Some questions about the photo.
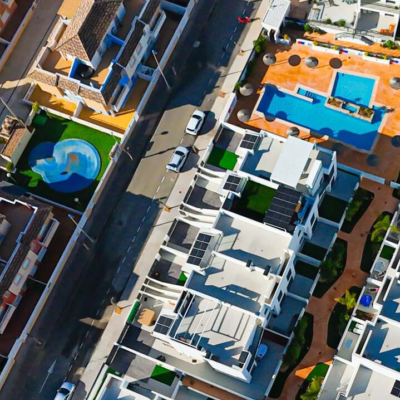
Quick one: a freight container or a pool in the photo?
pool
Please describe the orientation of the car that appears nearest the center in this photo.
diagonally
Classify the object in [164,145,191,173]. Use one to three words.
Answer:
car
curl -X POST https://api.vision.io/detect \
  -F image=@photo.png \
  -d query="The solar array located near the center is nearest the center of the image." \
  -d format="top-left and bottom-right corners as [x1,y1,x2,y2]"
[219,174,238,196]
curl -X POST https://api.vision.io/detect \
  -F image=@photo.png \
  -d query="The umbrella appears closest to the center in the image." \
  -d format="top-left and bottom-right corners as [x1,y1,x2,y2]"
[236,109,252,124]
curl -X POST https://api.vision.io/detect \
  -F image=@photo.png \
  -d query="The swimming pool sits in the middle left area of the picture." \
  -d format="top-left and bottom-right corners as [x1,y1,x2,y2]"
[29,134,98,186]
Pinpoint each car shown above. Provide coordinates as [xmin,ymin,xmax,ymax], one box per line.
[164,145,191,173]
[52,381,77,400]
[184,109,206,137]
